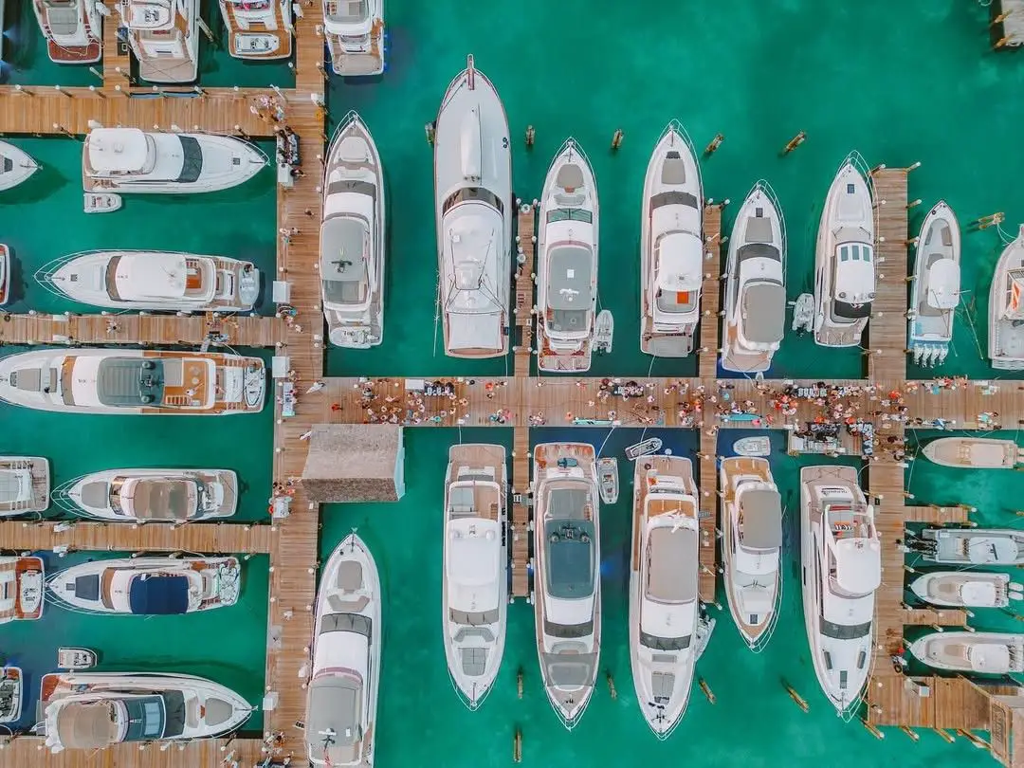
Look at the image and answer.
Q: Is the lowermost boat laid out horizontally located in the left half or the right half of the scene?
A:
left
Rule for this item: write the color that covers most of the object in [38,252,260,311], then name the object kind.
white boat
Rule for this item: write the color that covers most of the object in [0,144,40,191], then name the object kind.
white boat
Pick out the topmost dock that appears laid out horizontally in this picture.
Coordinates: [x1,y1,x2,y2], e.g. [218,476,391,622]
[0,87,295,134]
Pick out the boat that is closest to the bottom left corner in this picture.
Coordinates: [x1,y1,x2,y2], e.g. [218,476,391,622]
[0,665,25,721]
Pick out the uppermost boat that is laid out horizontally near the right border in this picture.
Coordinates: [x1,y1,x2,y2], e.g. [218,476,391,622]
[921,438,1024,468]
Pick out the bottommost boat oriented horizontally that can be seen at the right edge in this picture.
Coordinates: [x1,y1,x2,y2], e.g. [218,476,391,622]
[910,630,1024,674]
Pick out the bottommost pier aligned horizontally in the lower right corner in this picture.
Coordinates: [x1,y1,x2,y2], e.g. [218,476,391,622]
[868,675,992,729]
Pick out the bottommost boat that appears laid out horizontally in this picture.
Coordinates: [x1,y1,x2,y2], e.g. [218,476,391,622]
[41,666,253,747]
